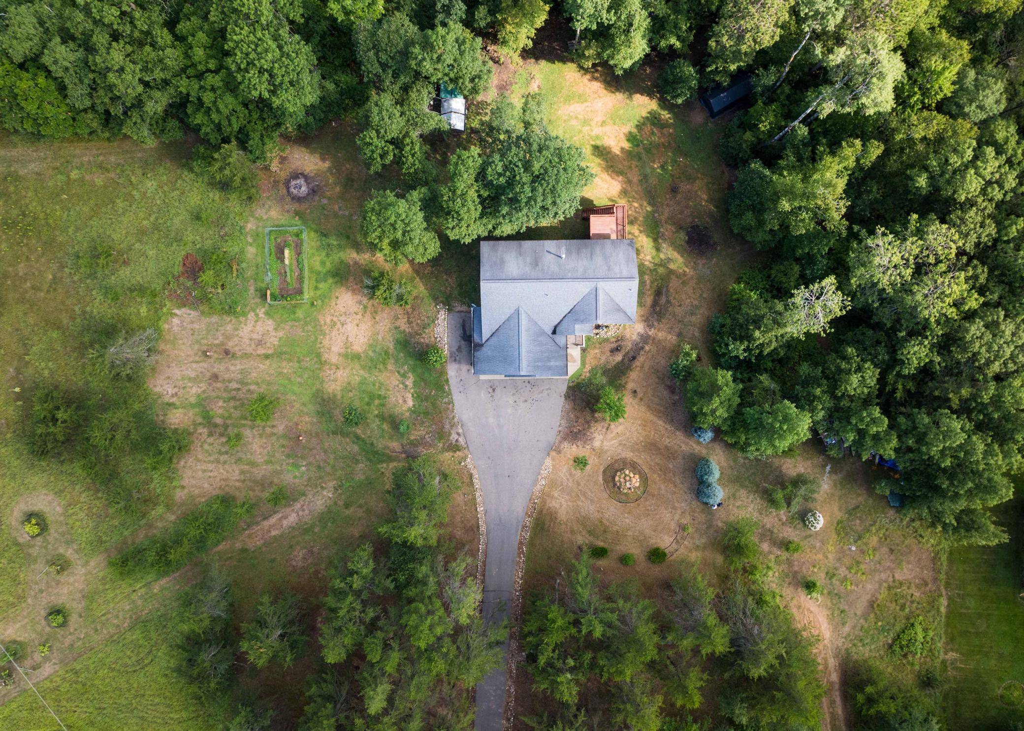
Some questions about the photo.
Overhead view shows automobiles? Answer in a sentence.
No, there appears to be no automobile in this shot.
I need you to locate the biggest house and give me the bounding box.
[471,239,639,378]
